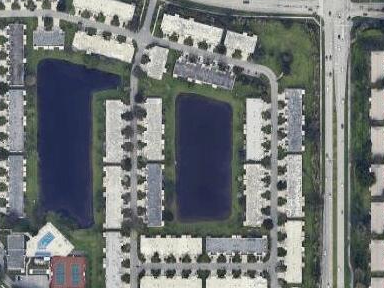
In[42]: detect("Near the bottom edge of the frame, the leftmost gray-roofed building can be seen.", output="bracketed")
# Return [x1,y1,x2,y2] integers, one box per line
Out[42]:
[7,234,24,274]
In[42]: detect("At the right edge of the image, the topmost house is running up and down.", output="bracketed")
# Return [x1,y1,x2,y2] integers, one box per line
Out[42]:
[369,52,384,82]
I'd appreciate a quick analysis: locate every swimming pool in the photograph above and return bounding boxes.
[26,223,73,257]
